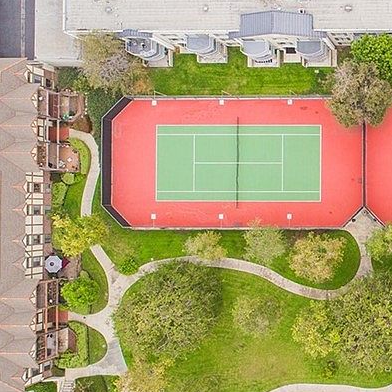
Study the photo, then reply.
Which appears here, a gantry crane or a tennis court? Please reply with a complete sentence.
I can see a tennis court in this picture.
